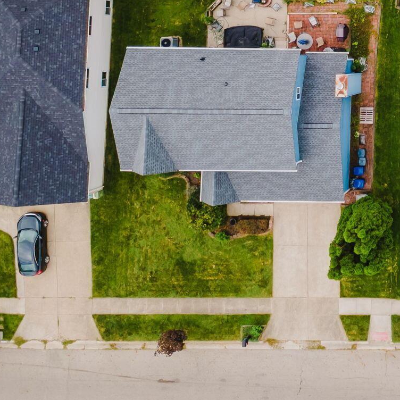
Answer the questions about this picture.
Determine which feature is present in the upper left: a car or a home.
home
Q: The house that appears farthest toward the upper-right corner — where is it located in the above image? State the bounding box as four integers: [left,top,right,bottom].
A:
[111,46,363,205]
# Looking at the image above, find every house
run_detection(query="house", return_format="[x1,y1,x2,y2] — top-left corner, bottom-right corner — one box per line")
[111,46,363,205]
[0,0,113,205]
